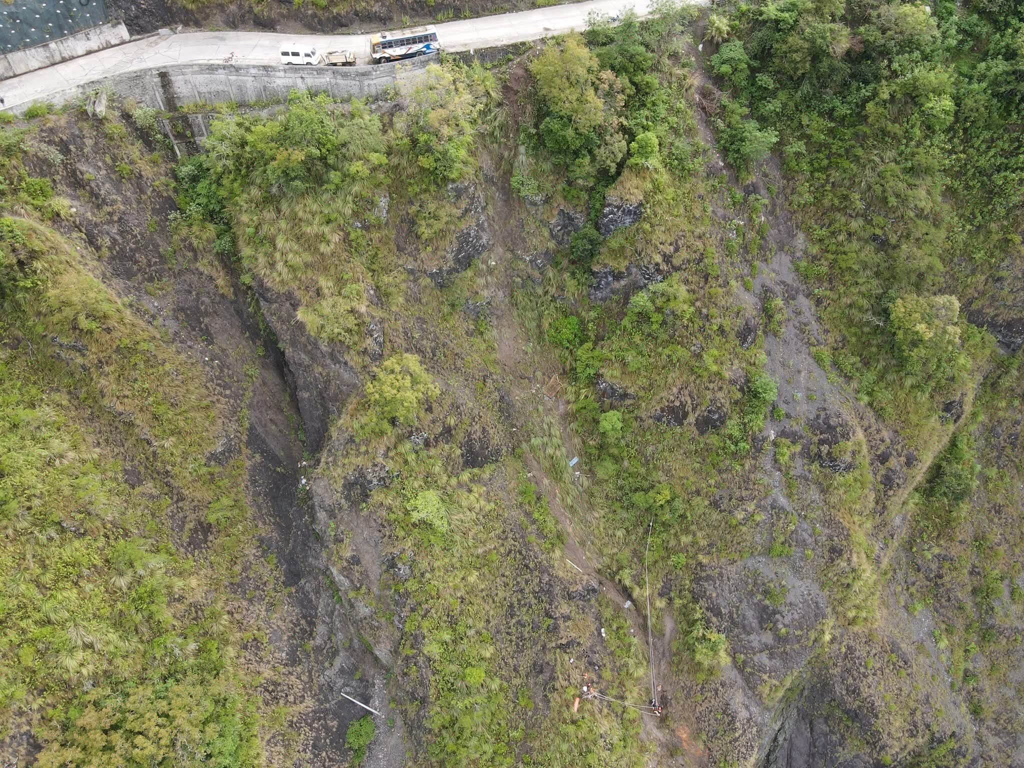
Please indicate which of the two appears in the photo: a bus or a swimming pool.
bus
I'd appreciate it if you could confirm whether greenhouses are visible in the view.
No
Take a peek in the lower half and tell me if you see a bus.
No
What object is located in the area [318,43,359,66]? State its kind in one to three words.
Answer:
truck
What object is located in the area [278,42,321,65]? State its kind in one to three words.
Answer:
vehicle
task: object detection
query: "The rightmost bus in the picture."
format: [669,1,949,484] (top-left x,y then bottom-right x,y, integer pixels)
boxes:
[365,20,441,64]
